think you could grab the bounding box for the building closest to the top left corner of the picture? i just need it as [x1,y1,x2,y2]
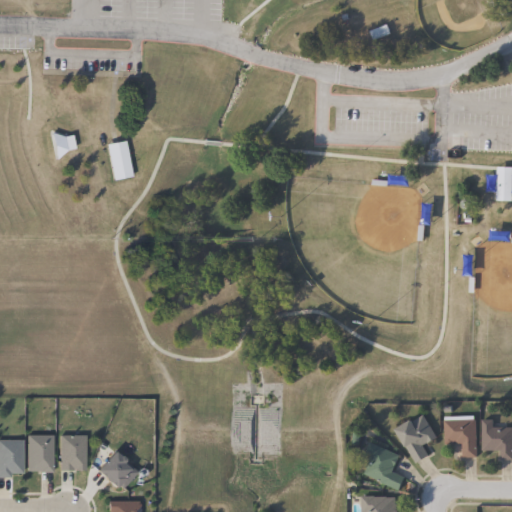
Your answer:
[52,132,77,159]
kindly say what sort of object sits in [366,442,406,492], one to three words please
house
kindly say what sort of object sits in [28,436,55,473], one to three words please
house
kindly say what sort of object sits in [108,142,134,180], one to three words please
barn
